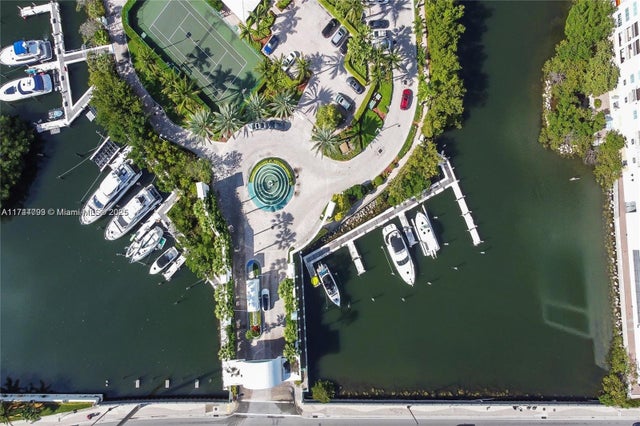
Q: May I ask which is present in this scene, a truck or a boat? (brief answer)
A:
boat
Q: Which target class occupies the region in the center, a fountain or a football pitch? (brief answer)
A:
fountain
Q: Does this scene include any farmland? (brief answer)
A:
No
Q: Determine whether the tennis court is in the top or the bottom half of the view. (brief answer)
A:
top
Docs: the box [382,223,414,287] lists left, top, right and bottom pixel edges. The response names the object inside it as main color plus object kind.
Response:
white boat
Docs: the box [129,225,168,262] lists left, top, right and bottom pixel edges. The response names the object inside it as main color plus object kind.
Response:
white boat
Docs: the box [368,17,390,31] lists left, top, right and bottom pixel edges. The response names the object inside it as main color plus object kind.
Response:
black vehicle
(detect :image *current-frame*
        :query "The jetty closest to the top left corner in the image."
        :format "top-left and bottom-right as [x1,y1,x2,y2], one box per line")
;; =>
[21,2,99,133]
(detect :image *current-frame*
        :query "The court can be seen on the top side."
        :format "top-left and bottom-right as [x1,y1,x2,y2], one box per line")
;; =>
[129,0,268,125]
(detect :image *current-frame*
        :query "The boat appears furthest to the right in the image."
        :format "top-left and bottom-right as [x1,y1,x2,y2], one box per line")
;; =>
[417,212,439,257]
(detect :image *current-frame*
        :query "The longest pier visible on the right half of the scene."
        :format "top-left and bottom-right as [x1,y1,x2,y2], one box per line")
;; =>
[304,155,482,284]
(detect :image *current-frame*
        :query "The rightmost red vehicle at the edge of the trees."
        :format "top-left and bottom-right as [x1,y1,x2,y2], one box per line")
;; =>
[399,88,414,111]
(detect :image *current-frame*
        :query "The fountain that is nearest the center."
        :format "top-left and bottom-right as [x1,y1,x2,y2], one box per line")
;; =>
[248,156,295,212]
